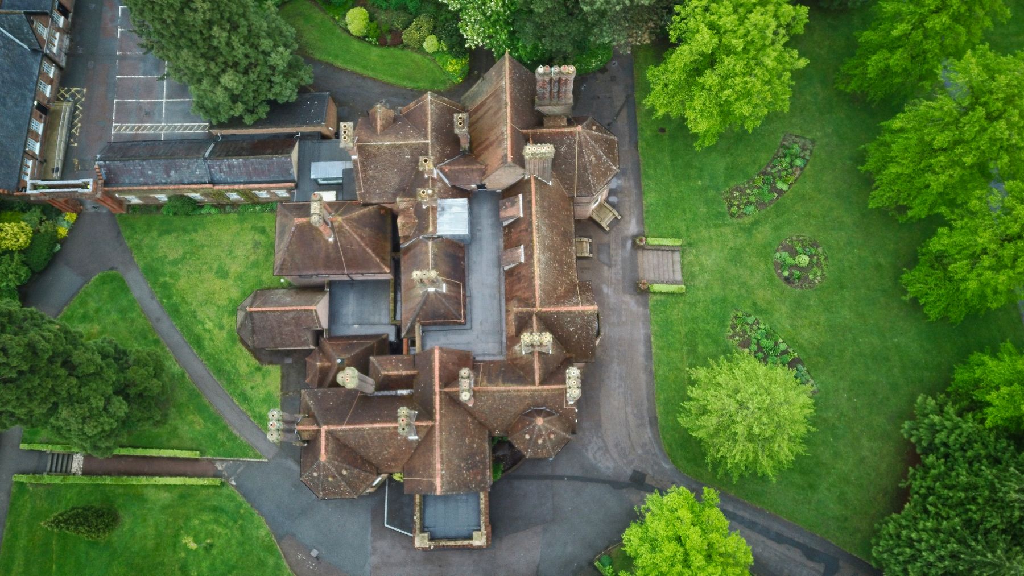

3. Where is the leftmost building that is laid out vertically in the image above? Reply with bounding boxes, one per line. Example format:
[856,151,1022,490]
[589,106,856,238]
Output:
[0,0,82,202]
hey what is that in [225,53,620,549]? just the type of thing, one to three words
house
